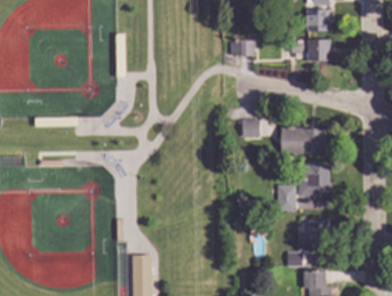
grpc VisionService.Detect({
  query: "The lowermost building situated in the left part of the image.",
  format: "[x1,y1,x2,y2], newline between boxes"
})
[132,256,153,296]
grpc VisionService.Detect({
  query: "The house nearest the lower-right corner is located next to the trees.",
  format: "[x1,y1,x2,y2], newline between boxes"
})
[304,270,332,296]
